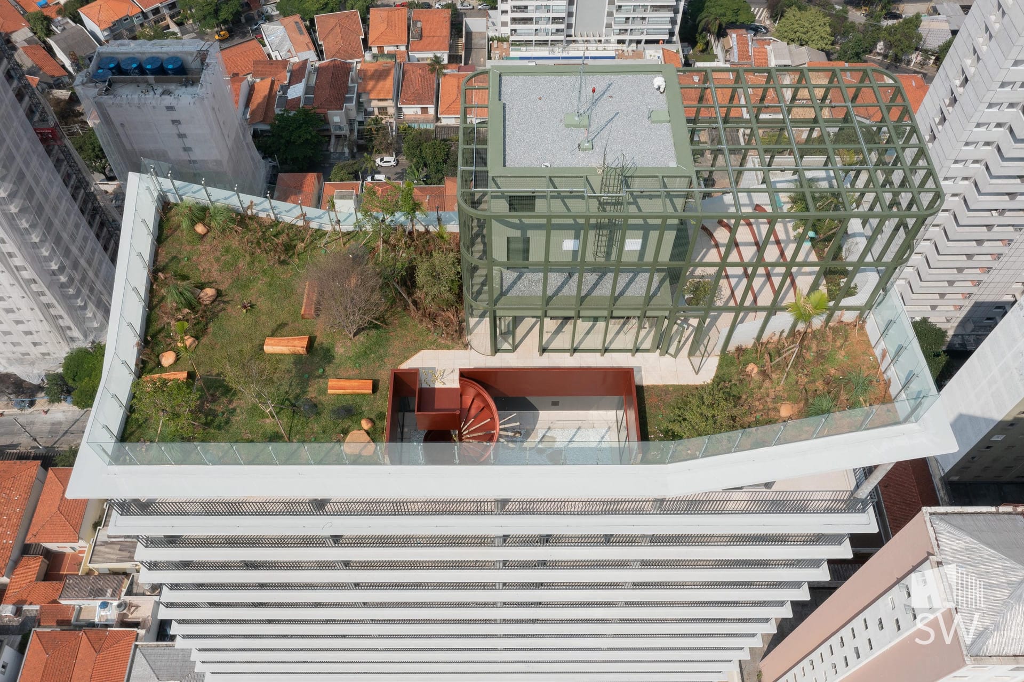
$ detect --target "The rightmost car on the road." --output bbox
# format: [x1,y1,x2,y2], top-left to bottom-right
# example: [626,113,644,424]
[749,20,770,33]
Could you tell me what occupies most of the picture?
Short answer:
buildings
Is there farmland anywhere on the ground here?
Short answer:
No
